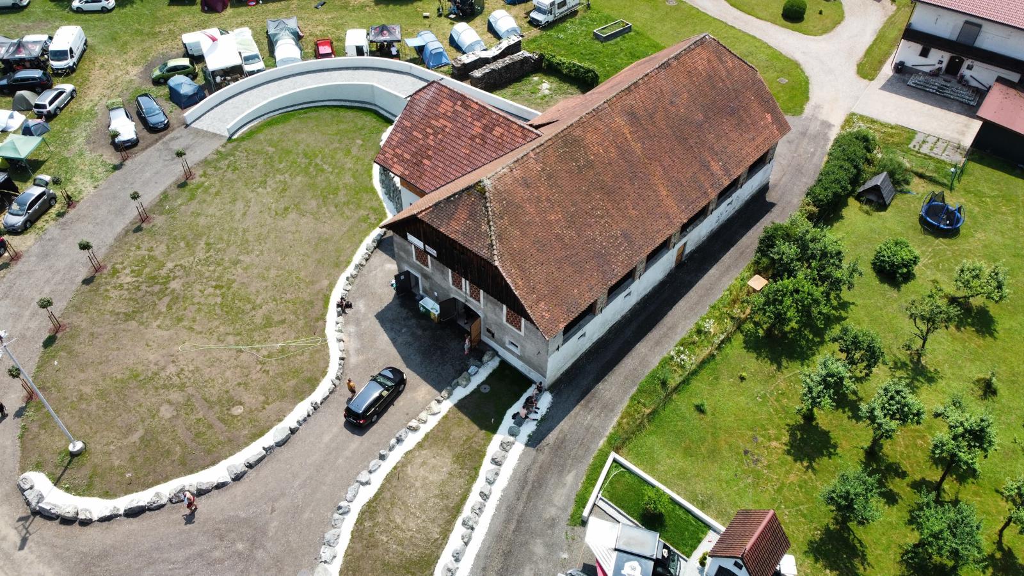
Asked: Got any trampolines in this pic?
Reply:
Yes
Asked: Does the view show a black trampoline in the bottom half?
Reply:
No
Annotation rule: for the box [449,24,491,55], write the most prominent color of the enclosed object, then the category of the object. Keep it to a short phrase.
white tent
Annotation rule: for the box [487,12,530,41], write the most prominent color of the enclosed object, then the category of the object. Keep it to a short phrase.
white tent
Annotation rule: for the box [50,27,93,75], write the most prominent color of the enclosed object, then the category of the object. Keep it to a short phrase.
white van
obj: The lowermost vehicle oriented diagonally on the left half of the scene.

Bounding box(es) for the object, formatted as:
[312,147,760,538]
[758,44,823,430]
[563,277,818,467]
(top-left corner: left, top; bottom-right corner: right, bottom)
[342,368,409,431]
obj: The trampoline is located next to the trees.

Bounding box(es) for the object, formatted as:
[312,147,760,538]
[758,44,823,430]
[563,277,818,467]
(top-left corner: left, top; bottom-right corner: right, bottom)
[915,196,968,244]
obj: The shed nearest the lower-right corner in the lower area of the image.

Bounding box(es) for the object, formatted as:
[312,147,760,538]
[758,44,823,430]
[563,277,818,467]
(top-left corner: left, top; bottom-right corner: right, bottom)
[708,508,792,576]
